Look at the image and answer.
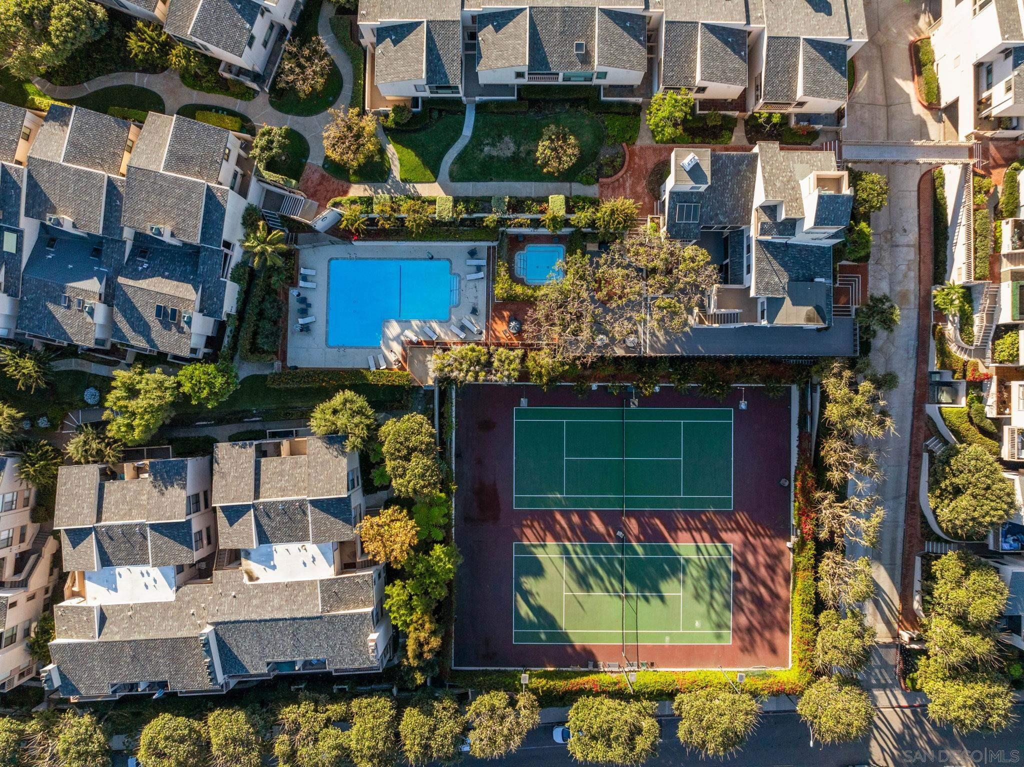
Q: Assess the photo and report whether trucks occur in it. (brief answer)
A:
No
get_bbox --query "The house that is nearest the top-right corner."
[926,0,1024,140]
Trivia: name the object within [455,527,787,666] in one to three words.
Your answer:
tennis court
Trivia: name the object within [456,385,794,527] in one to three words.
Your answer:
tennis court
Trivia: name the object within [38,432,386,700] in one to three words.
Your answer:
house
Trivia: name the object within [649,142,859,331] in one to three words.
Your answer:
building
